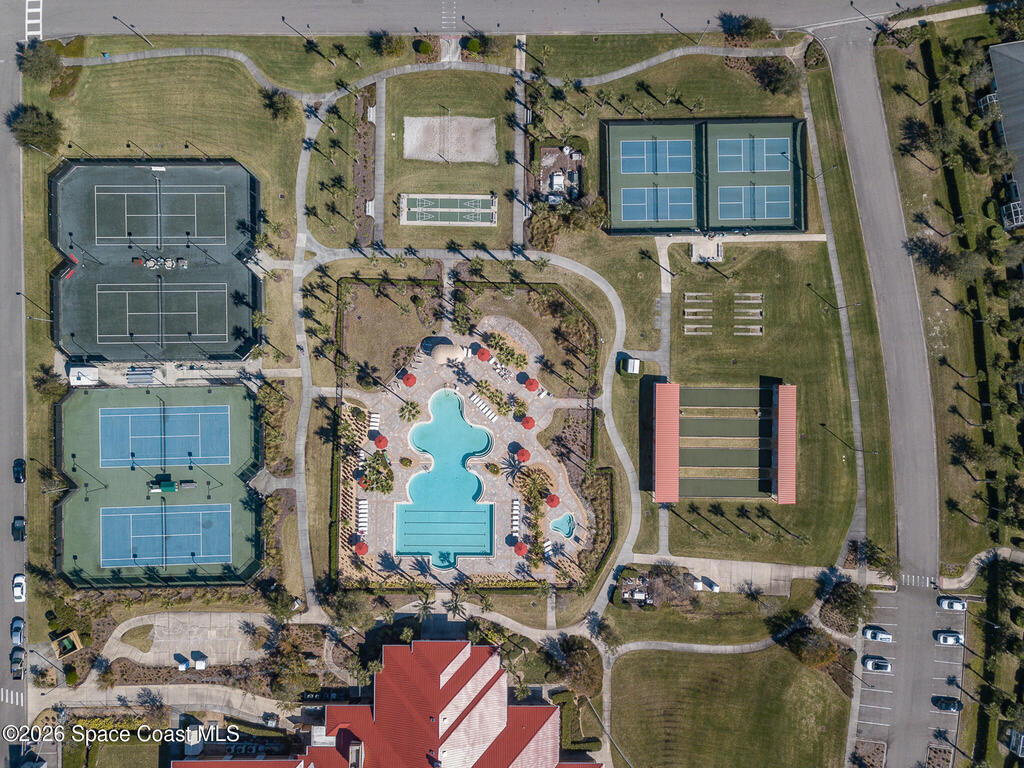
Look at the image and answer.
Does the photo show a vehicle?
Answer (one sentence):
Yes, there is a vehicle in the image.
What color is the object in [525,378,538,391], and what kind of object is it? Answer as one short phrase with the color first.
red umbrella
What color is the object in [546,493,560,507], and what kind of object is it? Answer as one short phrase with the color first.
red umbrella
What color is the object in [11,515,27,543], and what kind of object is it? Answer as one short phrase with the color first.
black vehicle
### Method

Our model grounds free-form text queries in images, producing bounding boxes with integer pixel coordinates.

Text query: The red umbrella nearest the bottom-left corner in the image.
[355,541,368,554]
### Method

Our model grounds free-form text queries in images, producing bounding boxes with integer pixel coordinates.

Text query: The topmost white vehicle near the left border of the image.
[12,575,28,600]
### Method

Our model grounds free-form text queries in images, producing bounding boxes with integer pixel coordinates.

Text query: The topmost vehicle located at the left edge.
[11,459,27,483]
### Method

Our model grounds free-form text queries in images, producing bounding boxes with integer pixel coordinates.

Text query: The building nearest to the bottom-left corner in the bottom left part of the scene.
[51,628,88,658]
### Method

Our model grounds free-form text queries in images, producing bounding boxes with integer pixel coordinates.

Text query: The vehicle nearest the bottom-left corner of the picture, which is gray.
[10,647,26,678]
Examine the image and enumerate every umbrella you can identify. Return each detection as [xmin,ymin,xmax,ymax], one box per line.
[514,542,527,556]
[525,378,538,391]
[546,493,560,507]
[517,449,530,462]
[477,348,491,361]
[403,373,417,386]
[521,416,535,429]
[357,476,370,489]
[355,541,368,554]
[375,436,388,448]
